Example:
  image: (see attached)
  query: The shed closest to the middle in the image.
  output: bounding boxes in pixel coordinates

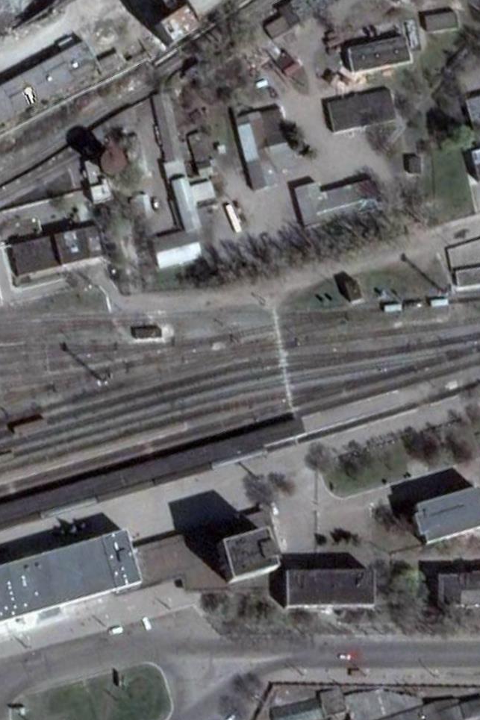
[134,325,161,339]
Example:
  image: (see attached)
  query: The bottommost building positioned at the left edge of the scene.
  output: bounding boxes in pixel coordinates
[0,530,142,625]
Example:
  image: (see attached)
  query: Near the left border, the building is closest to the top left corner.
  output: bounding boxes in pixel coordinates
[0,34,97,124]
